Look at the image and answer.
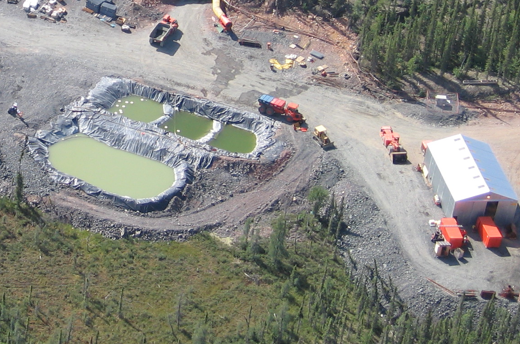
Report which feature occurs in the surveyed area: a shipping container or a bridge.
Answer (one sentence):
Of the two, only a shipping container appears.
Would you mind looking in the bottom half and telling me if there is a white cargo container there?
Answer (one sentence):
No, I can find no white cargo container in the bottom half.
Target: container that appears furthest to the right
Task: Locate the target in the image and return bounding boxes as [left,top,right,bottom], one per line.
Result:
[474,214,502,247]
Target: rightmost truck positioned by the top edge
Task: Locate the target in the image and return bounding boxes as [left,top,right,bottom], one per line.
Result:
[148,17,181,45]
